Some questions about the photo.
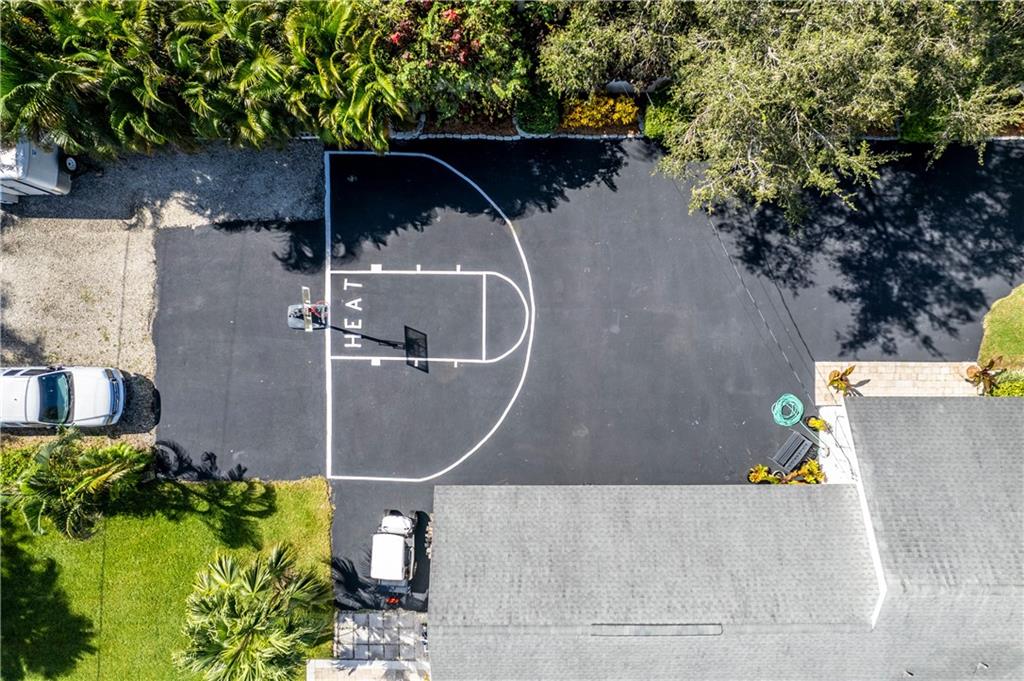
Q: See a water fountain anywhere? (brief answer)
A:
No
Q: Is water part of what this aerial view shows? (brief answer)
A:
No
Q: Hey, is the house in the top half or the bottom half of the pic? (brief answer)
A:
bottom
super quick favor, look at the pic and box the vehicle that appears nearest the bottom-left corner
[0,362,126,432]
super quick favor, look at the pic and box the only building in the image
[426,397,1024,681]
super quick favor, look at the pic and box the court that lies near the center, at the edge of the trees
[325,150,535,481]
